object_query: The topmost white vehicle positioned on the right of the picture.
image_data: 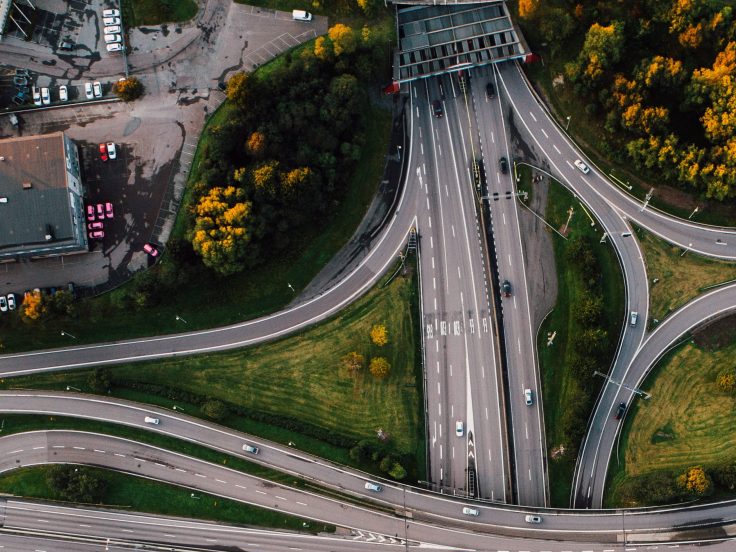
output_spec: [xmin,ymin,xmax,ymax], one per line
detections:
[574,159,588,174]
